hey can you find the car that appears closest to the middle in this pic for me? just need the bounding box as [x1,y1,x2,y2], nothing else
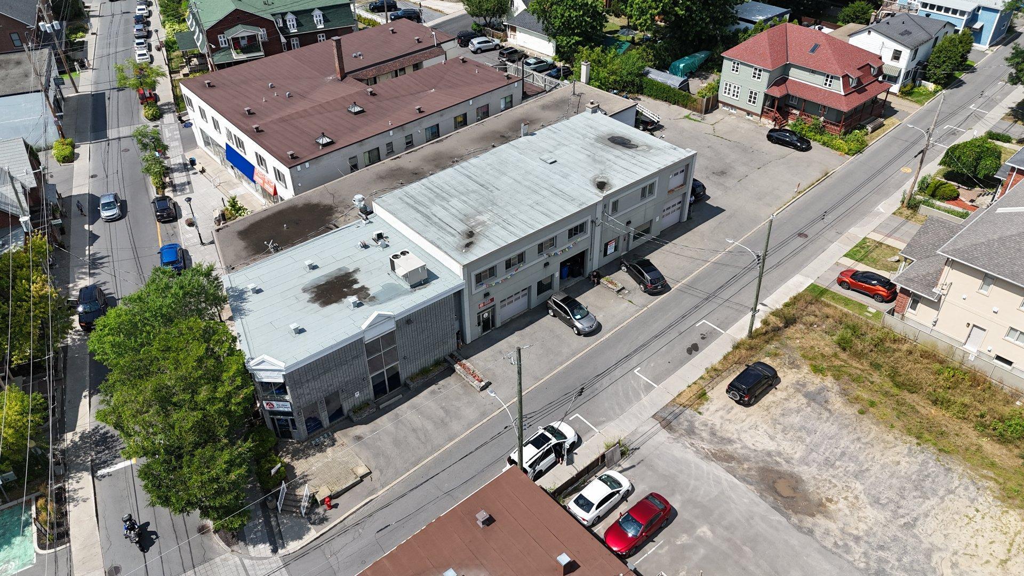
[543,285,601,334]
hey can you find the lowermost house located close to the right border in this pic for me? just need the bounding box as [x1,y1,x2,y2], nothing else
[890,183,1024,375]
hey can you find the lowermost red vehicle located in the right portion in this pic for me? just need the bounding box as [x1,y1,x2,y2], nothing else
[605,481,675,556]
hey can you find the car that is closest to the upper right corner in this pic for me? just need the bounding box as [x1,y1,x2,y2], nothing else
[764,124,814,148]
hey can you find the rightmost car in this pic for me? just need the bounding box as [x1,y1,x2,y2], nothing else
[836,267,901,303]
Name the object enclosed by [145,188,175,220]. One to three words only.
car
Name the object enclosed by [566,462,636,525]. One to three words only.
car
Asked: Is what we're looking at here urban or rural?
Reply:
urban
